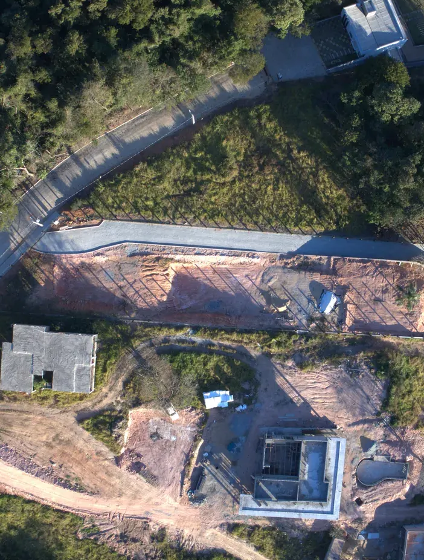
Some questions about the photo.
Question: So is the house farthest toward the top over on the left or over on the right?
right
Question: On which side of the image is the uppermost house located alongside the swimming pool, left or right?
right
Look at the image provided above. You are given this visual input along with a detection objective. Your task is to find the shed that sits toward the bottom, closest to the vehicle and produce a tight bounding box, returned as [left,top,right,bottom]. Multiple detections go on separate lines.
[203,391,234,408]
